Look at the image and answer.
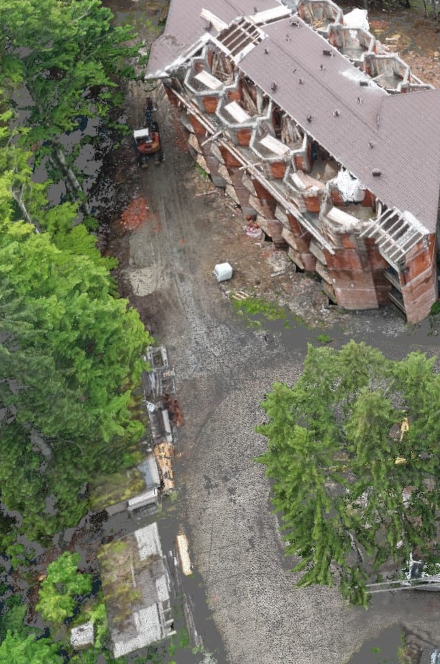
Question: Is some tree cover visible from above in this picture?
Yes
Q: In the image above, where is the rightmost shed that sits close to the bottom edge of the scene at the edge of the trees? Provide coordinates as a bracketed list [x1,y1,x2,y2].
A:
[98,524,185,664]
